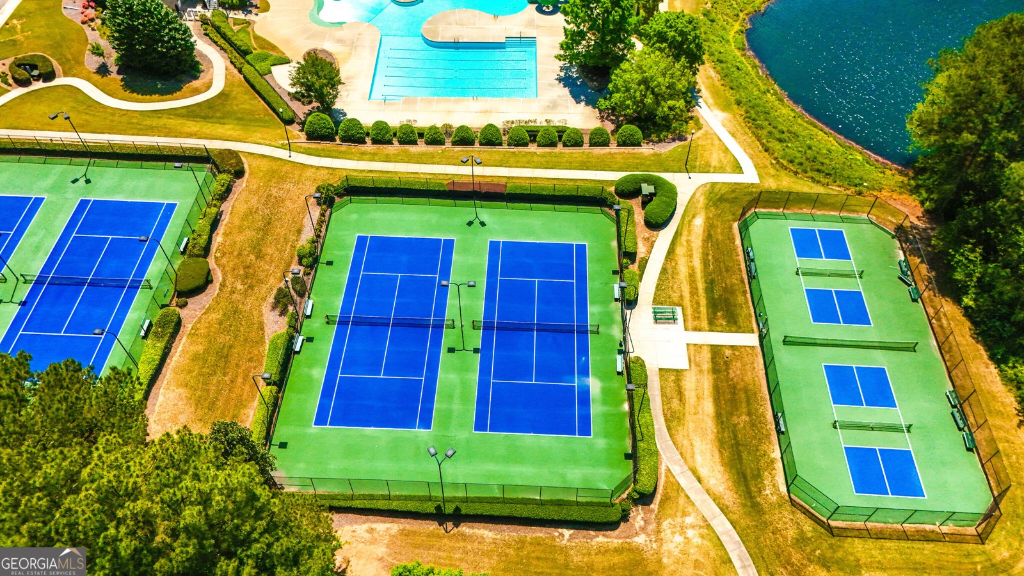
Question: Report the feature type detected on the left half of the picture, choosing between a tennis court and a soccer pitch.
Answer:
tennis court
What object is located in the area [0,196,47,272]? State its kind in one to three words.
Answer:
tennis court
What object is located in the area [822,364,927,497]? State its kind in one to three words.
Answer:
sports court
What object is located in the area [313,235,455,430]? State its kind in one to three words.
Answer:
tennis court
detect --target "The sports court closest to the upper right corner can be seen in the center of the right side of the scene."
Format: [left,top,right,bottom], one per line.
[789,227,874,325]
